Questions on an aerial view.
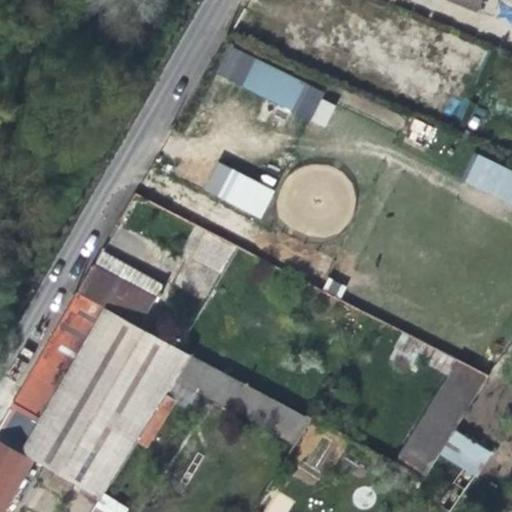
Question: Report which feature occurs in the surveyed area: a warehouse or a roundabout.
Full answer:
The image shows a warehouse.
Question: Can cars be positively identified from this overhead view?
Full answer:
Yes, the picture does show a car.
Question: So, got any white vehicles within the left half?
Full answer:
Yes, looking within the left half, one can make out a white vehicle.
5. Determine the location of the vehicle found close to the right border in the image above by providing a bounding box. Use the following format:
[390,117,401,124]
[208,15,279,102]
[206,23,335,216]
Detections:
[470,106,488,130]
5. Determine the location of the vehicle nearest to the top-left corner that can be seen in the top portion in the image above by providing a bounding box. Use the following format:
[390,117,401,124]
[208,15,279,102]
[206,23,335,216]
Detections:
[171,76,188,100]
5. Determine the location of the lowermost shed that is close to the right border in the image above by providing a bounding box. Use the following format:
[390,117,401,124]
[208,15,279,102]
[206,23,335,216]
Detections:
[442,430,494,476]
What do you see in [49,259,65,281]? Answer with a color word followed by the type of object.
gray car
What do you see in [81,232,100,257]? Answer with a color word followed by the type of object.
white car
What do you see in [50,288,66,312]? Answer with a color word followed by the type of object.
white car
